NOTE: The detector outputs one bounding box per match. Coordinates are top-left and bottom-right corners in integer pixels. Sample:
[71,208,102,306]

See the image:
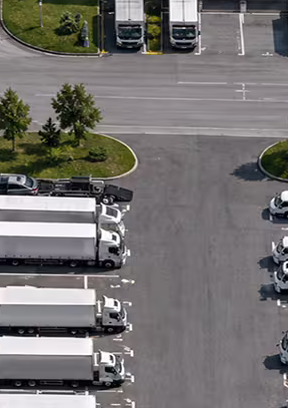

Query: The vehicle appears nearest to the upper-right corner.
[165,0,201,47]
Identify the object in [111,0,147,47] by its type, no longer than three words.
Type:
truck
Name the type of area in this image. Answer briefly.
parking lot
